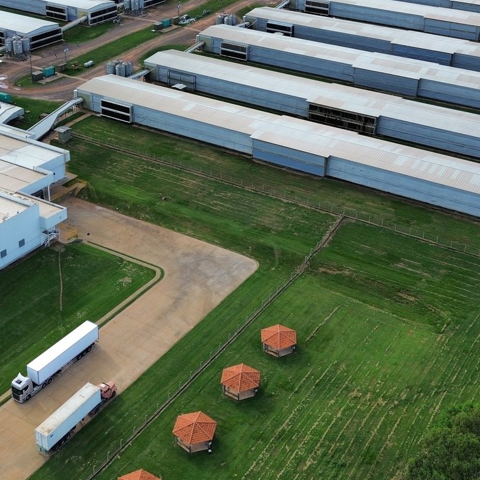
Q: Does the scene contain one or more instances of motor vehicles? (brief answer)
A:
Yes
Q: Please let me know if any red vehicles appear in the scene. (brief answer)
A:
No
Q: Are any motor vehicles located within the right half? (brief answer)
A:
No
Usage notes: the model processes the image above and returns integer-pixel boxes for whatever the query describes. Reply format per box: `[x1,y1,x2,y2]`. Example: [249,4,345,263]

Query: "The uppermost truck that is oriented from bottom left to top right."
[9,319,98,403]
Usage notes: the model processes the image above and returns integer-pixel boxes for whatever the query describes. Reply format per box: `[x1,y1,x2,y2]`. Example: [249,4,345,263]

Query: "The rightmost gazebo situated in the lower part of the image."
[262,324,296,358]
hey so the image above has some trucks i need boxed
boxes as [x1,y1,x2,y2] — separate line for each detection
[9,319,98,403]
[34,374,120,451]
